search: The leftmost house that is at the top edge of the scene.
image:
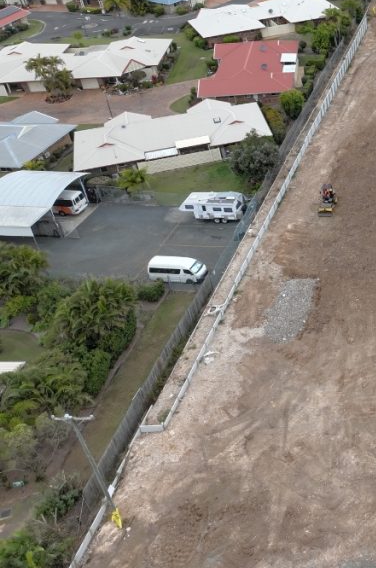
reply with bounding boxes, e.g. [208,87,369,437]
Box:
[0,4,30,32]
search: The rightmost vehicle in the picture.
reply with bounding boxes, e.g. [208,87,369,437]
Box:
[312,185,338,214]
